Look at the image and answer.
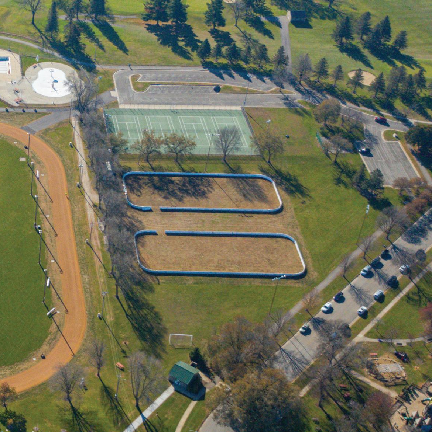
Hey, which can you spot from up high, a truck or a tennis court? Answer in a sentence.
I can see a tennis court in this picture.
